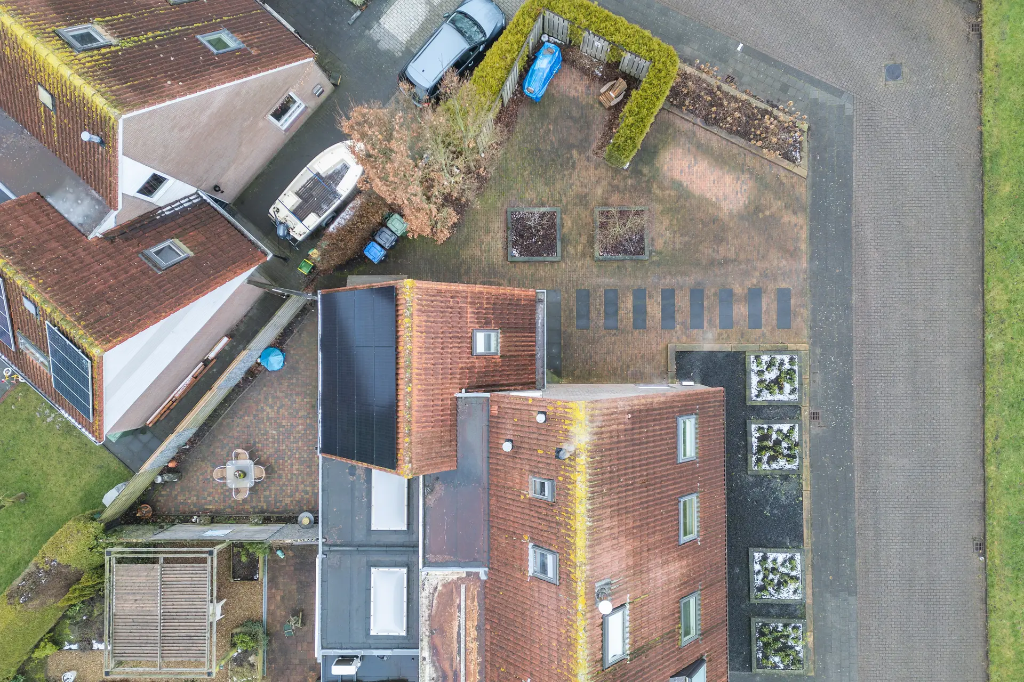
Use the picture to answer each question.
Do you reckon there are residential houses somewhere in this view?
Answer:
Yes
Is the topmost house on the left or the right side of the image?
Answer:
left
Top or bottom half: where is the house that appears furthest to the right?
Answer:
bottom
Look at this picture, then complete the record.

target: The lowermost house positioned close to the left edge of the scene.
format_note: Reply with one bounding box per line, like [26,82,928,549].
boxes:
[0,171,295,446]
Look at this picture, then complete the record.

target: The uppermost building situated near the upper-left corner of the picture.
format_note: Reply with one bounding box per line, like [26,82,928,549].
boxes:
[0,0,333,228]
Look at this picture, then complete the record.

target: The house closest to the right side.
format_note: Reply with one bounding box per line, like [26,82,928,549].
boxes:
[478,380,732,682]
